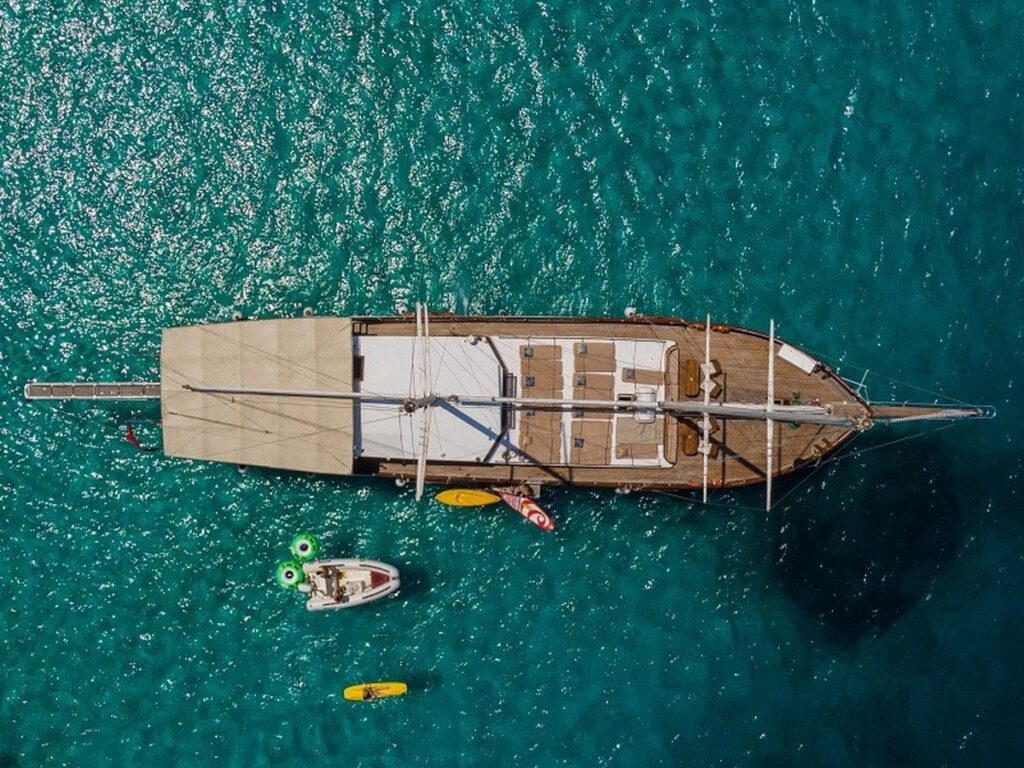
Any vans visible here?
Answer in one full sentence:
No, I can't see a single van in this photo.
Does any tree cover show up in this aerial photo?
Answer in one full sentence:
No, there is no tree cover in the image.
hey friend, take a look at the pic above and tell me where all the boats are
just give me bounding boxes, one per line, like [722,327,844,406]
[298,559,400,611]
[24,303,997,511]
[436,488,500,506]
